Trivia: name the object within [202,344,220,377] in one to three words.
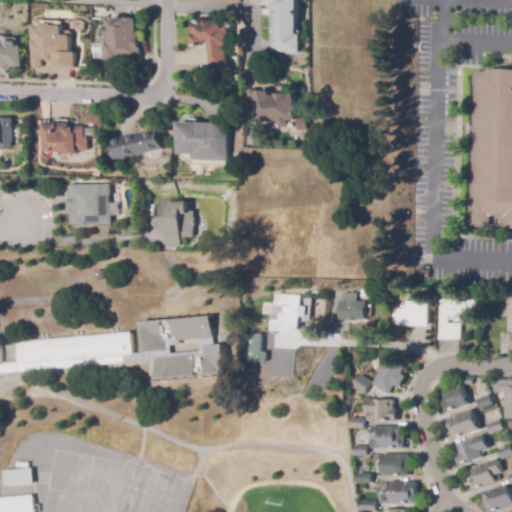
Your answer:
building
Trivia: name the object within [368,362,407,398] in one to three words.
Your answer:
house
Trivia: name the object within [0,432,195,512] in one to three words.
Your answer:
sports court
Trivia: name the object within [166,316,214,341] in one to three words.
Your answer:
building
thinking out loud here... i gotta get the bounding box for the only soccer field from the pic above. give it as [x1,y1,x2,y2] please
[238,486,330,512]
